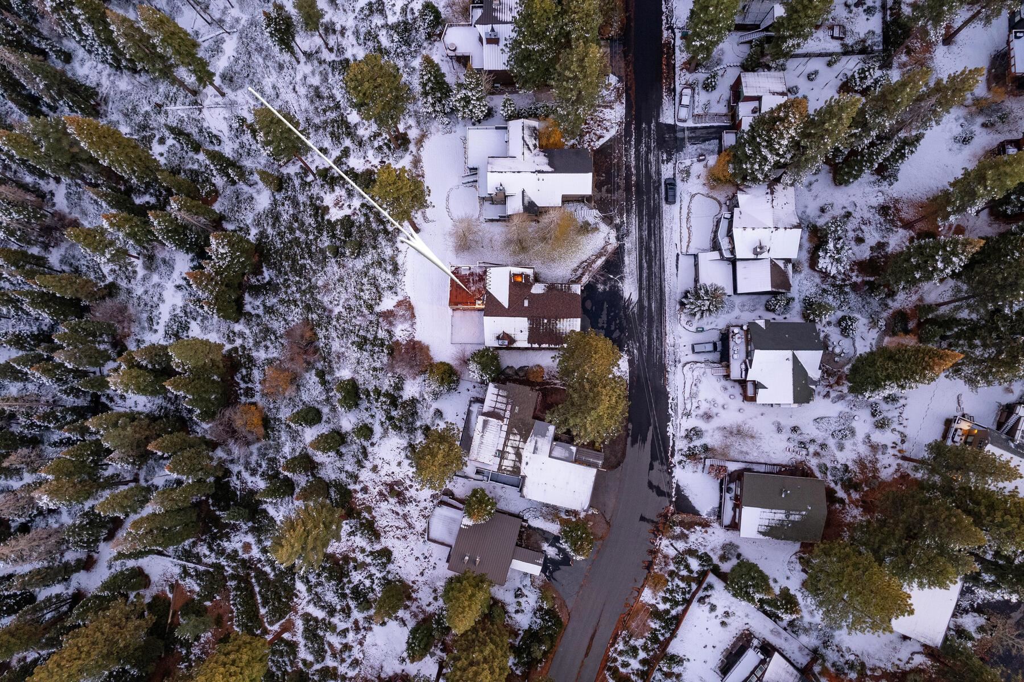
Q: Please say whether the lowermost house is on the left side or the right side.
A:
right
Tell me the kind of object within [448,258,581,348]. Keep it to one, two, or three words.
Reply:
house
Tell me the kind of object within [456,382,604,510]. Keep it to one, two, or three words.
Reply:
house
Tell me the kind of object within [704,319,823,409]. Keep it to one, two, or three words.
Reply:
building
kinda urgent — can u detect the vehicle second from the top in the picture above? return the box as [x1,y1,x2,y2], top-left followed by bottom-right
[664,178,678,205]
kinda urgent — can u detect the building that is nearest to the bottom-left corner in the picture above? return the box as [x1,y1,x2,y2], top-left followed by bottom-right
[427,495,544,585]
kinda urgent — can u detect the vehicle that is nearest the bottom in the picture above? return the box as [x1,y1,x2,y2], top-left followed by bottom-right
[690,340,725,354]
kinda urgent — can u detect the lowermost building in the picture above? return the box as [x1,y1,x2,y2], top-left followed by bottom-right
[716,641,807,682]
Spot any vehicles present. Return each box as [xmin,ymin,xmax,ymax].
[690,340,725,354]
[676,88,693,121]
[664,178,678,205]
